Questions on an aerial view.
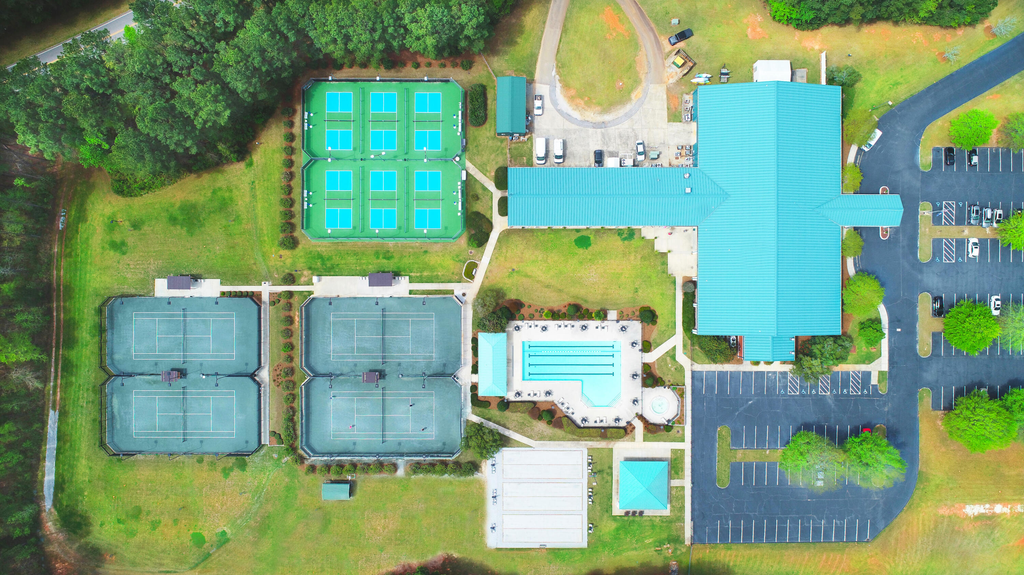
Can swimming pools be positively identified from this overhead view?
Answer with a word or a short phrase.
Yes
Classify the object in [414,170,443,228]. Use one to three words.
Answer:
sports court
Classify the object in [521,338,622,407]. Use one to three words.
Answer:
swimming pool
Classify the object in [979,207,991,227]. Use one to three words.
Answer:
vehicle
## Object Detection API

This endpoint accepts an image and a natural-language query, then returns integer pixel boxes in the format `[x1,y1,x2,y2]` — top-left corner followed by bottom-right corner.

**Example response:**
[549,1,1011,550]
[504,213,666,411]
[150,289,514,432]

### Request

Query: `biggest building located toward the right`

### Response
[507,80,904,362]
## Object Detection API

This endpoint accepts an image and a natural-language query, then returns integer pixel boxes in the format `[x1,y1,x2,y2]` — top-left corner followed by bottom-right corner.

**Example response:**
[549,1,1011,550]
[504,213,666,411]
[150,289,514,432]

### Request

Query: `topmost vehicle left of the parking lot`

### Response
[668,28,692,45]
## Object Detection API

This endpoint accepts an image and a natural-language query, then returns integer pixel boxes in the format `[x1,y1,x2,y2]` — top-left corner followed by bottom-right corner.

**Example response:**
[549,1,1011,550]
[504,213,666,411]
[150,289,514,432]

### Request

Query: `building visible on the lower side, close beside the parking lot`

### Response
[619,460,668,510]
